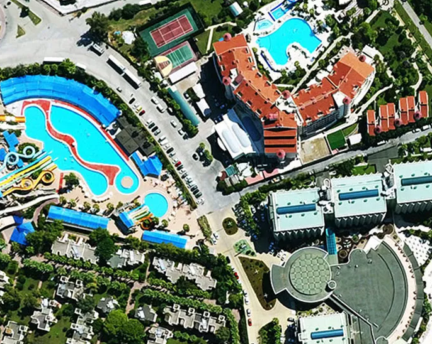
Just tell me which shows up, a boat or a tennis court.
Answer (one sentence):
Looking from above, you can make out a tennis court.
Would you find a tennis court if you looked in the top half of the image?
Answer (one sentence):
Yes, there is a tennis court in the top half of the image.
